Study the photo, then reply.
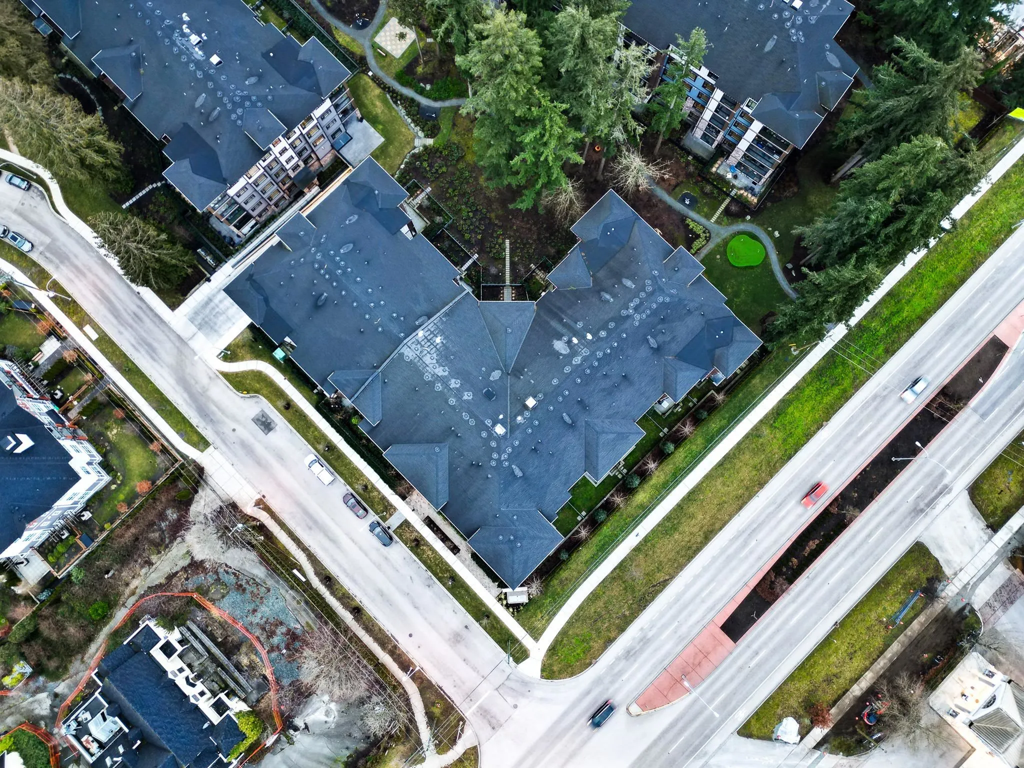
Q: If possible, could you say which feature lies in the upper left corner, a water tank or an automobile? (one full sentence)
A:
You can see an automobile in the upper left corner.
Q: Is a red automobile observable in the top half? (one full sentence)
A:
No, in the top half there is no red automobile.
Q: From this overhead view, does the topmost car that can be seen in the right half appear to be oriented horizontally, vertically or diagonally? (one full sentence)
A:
The topmost car that can be seen in the right half is oriented diagonally.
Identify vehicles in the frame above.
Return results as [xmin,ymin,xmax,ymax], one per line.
[4,227,34,253]
[339,489,371,521]
[801,479,832,510]
[587,698,618,733]
[366,518,396,550]
[300,451,338,487]
[900,373,933,405]
[0,167,32,191]
[863,700,892,729]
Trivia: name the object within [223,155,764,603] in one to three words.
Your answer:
building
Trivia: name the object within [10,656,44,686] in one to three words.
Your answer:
shed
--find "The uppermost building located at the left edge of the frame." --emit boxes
[21,0,373,245]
